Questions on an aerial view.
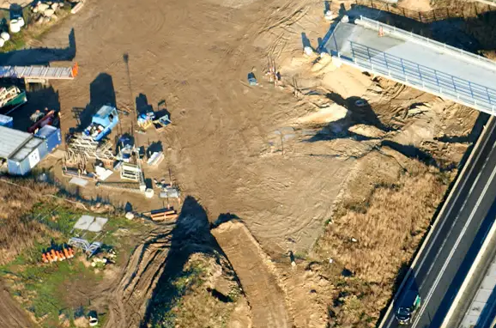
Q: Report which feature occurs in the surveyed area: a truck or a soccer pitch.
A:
truck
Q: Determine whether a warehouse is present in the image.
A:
No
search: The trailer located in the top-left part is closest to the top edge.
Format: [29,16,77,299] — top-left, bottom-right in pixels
[0,67,75,91]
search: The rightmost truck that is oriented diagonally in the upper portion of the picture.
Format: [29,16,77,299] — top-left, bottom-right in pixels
[79,100,122,143]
